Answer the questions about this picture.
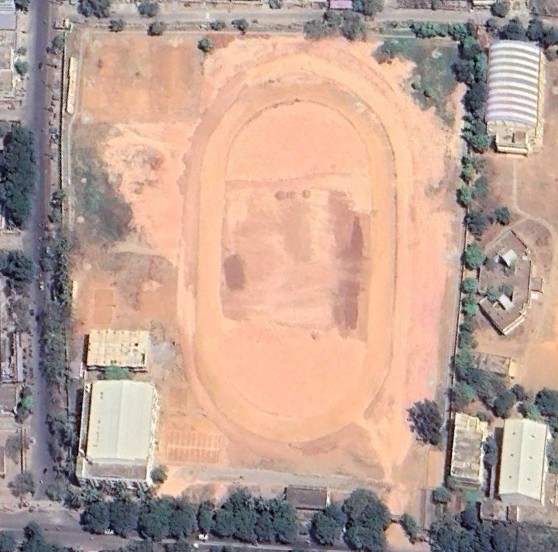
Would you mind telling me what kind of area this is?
sports ground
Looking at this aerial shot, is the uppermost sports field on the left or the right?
left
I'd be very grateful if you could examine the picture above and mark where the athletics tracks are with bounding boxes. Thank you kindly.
[198,75,396,440]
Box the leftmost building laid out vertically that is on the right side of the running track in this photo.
[451,413,488,493]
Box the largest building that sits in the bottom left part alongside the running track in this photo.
[77,379,160,492]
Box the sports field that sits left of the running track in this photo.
[82,37,203,122]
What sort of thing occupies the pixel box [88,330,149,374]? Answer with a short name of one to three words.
building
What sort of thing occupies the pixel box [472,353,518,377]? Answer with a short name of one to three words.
shed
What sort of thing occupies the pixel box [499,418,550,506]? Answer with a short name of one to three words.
building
